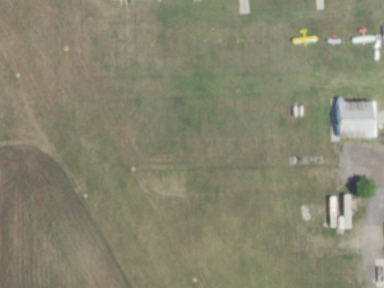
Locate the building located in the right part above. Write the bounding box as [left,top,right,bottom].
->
[336,96,378,140]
